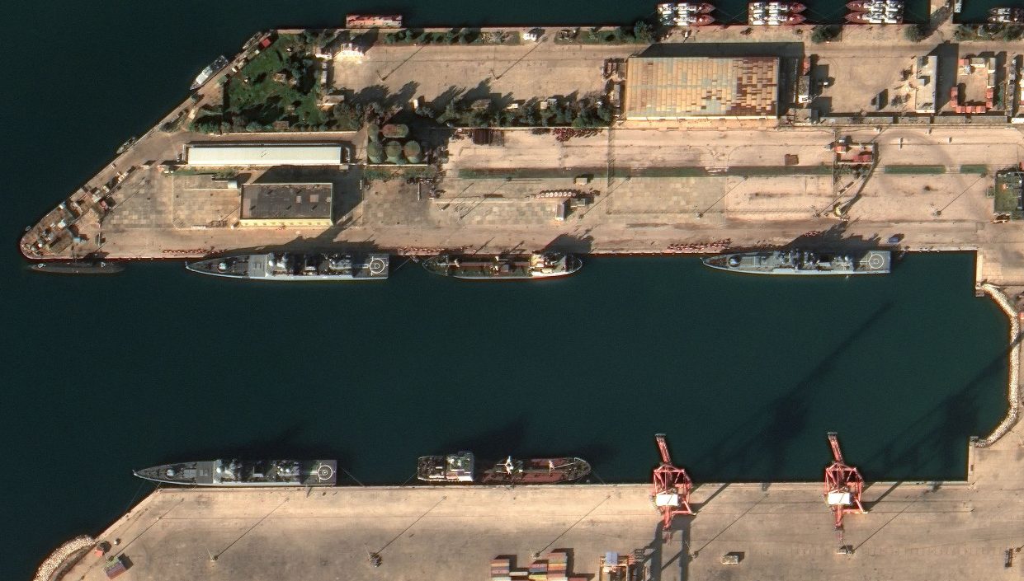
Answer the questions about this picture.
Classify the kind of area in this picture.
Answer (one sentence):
What you see here is a port.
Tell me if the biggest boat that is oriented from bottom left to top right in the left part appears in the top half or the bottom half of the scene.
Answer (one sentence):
You can find the biggest boat that is oriented from bottom left to top right in the left part in the top half.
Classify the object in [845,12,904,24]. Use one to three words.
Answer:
boat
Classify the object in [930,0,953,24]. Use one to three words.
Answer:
pier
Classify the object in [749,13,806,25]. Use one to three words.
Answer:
boat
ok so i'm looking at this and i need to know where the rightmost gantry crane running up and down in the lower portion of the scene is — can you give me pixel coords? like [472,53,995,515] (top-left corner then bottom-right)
[823,437,868,544]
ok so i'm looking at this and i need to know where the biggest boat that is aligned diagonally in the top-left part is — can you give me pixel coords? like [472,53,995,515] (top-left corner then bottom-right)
[190,55,230,90]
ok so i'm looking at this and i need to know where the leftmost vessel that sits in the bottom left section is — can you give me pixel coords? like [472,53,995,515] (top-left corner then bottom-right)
[134,459,338,487]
